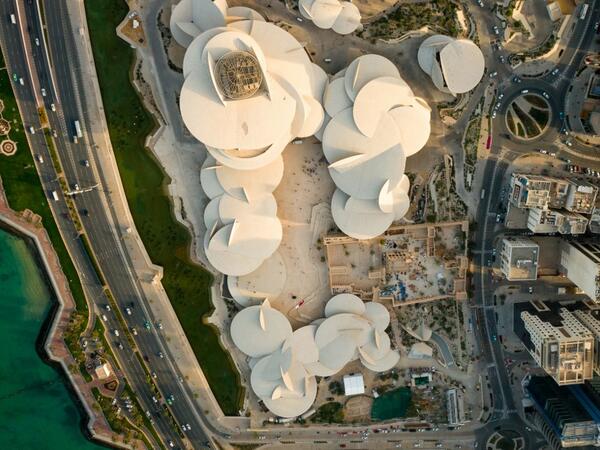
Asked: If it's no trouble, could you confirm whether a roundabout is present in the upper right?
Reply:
Yes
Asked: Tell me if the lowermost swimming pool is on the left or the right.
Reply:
right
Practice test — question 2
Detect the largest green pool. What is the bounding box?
[372,386,412,421]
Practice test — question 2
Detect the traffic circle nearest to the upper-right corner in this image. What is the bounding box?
[492,81,565,151]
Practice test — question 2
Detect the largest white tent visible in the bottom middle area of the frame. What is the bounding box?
[343,372,364,396]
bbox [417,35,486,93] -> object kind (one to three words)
building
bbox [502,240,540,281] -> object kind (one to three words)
building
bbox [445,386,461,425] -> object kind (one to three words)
shed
